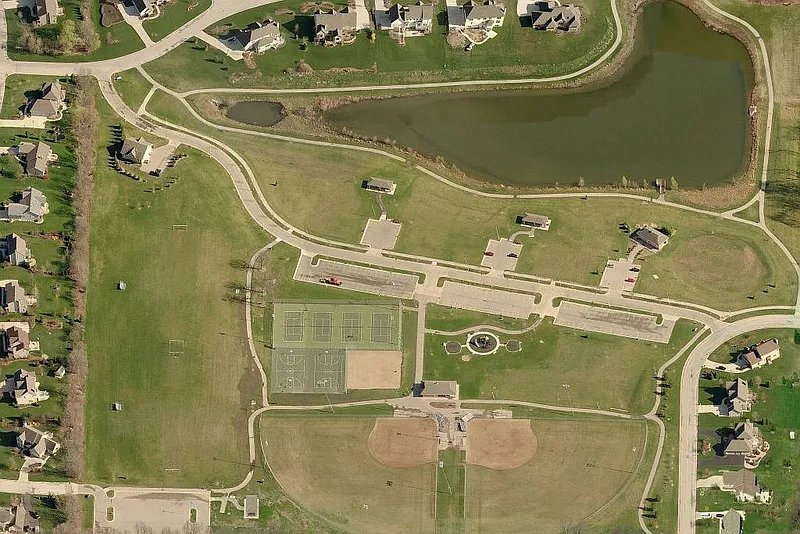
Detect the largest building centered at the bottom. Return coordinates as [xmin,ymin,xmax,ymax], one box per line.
[423,379,460,401]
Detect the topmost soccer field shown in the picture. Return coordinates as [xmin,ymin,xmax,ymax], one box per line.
[133,229,227,340]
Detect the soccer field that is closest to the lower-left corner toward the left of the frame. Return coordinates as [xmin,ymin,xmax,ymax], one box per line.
[133,353,227,469]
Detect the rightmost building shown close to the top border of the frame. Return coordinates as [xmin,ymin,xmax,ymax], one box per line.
[533,7,580,37]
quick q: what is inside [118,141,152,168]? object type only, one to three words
building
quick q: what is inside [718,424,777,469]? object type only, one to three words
house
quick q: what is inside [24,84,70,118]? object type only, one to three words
house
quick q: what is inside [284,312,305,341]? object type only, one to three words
tennis court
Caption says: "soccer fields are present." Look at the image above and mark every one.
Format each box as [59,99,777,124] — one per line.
[133,353,227,469]
[133,229,227,340]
